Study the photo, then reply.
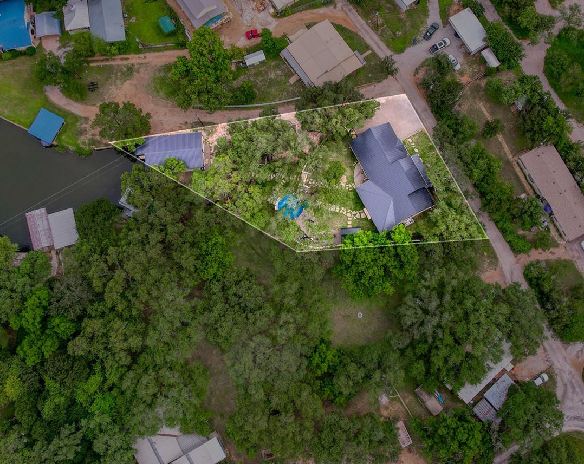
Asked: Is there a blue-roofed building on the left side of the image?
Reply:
Yes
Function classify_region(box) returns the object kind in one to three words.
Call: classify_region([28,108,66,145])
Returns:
building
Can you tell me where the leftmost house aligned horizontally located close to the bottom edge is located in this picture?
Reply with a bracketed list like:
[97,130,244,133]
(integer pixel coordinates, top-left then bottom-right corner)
[131,424,226,464]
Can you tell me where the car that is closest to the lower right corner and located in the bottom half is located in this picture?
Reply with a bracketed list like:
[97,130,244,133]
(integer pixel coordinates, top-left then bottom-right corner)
[529,370,551,389]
